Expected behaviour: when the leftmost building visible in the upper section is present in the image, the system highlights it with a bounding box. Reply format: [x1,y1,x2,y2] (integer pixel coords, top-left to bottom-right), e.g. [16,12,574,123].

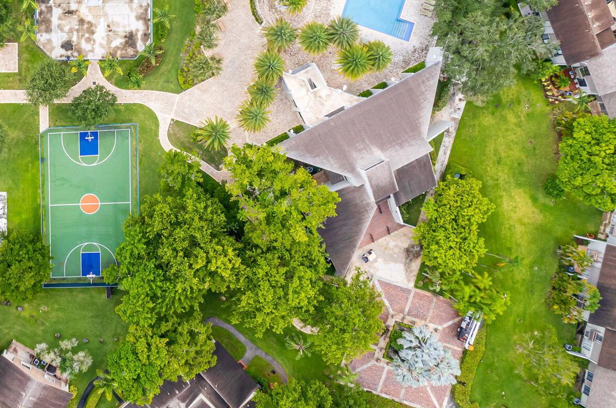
[272,48,452,269]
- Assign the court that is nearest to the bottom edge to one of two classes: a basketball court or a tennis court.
basketball court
